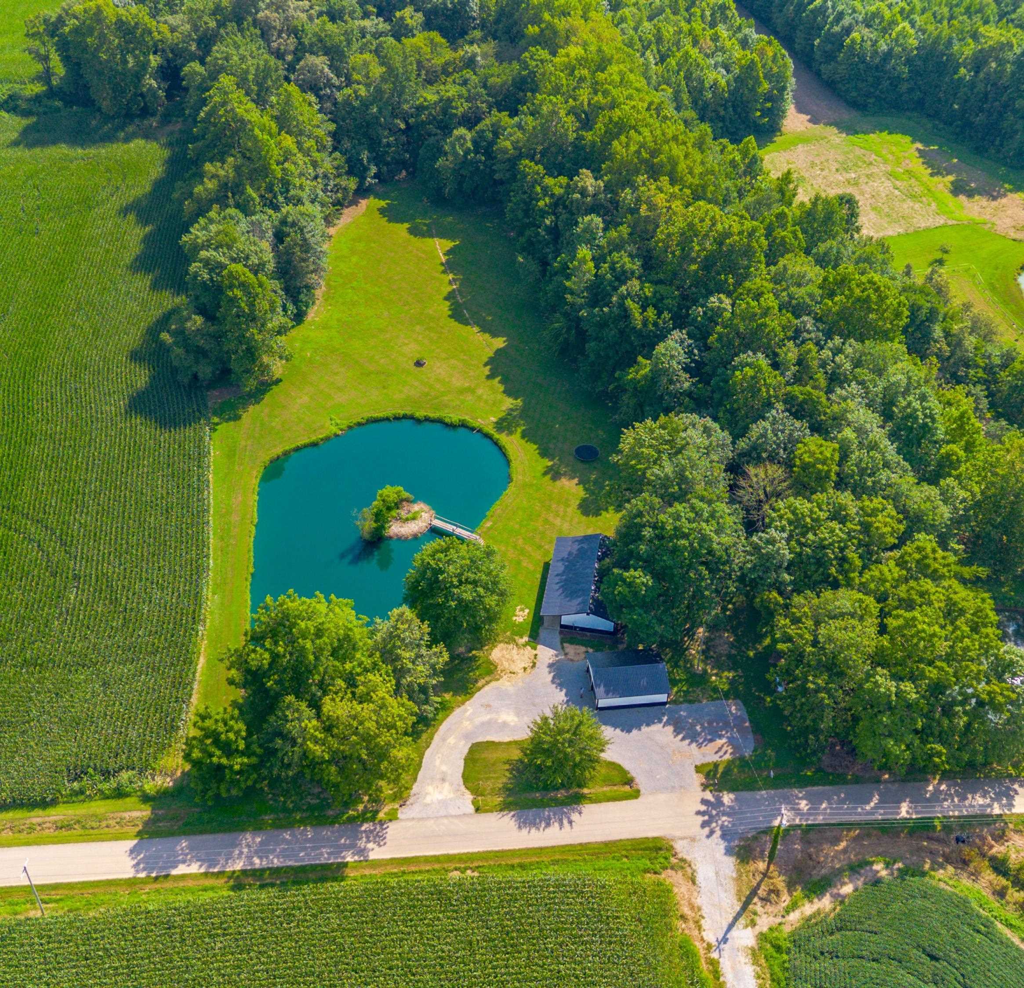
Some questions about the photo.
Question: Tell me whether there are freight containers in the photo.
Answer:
No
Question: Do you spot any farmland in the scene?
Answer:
Yes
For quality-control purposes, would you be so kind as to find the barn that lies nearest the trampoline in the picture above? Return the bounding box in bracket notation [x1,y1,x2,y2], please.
[539,531,625,636]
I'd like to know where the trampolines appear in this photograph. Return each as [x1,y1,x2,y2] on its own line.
[573,444,601,463]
